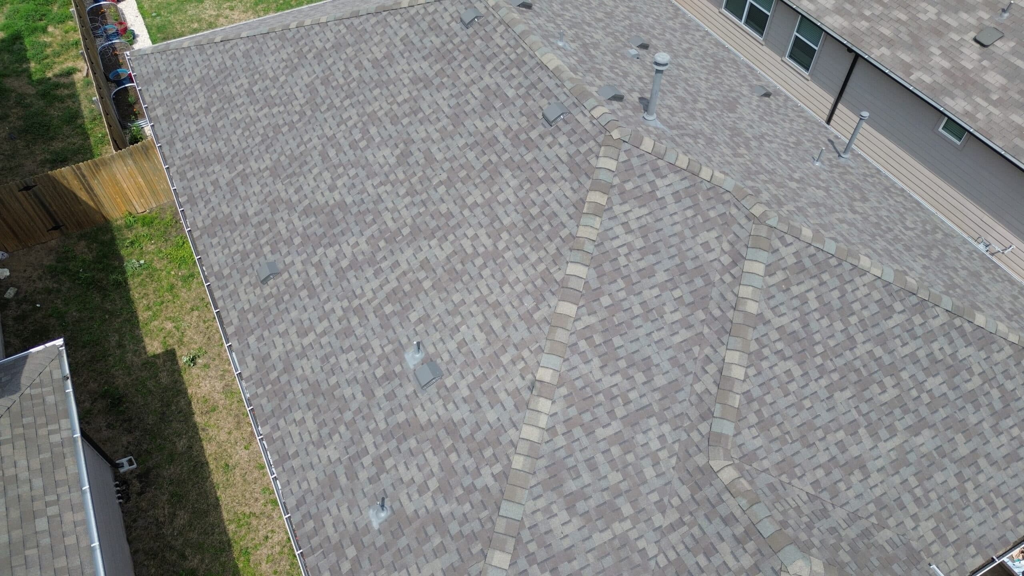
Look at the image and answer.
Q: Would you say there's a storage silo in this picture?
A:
No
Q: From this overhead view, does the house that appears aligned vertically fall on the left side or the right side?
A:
left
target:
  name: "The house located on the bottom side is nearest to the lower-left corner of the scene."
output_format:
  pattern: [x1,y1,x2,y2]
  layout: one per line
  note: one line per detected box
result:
[0,305,138,576]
